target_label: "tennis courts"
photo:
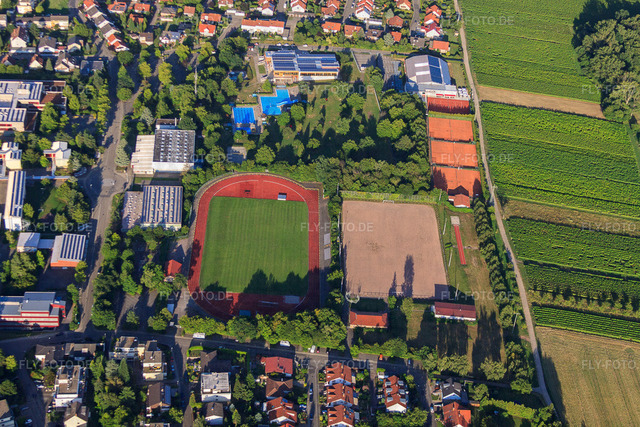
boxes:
[453,143,478,166]
[431,141,455,164]
[450,119,474,141]
[449,99,469,114]
[433,167,458,193]
[429,118,452,139]
[456,169,482,196]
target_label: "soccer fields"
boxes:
[200,196,308,296]
[342,201,448,297]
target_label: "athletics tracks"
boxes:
[181,171,328,325]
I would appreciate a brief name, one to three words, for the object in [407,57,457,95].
building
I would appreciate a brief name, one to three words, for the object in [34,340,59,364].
house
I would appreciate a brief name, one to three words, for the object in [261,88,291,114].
swimming pool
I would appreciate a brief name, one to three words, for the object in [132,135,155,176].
building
